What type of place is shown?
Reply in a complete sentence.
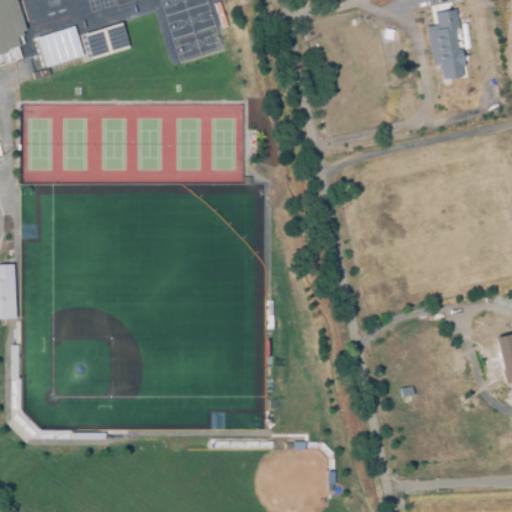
What you see here is a sports ground.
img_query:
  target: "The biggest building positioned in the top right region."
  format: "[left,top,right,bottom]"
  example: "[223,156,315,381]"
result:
[429,2,468,85]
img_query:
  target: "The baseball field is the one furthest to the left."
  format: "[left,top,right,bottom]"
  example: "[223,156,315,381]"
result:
[22,185,266,430]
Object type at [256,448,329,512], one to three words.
baseball field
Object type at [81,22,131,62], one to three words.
building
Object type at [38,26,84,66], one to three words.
building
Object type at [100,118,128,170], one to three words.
tennis court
